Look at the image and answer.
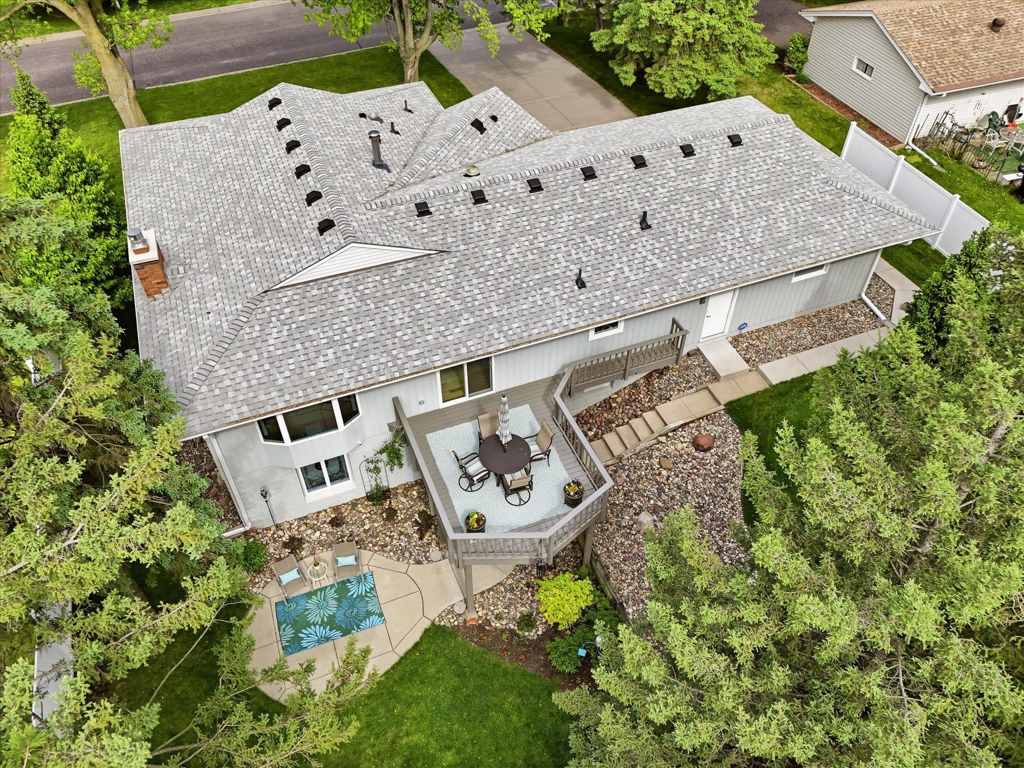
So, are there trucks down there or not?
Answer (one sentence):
No, this view has no truck in it.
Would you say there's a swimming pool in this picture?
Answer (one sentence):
No, I can't see a single swimming pool in this photo.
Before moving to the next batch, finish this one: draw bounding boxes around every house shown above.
[786,0,1024,167]
[115,80,944,543]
